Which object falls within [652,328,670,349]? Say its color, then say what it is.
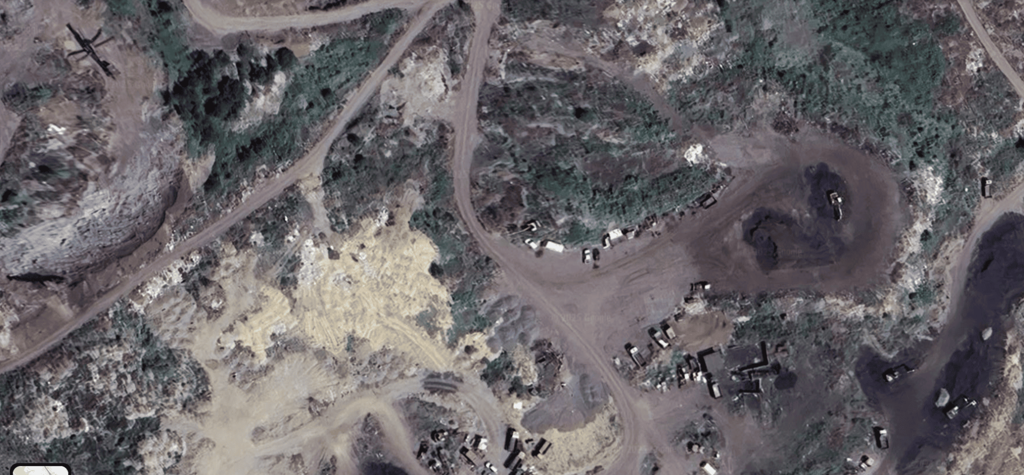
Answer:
white vehicle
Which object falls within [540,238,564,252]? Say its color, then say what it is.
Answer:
white vehicle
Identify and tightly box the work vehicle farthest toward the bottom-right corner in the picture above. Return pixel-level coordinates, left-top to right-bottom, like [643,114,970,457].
[945,401,974,420]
